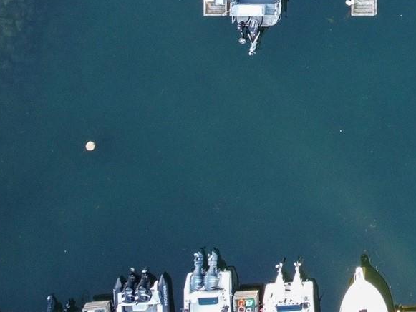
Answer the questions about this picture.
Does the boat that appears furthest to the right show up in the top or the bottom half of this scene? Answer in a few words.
bottom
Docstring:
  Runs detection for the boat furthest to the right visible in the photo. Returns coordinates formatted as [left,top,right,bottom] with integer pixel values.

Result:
[340,266,388,312]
